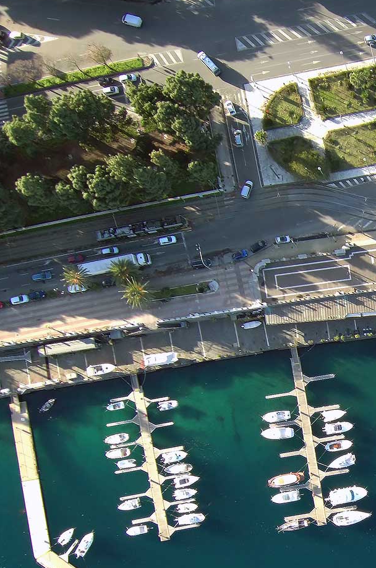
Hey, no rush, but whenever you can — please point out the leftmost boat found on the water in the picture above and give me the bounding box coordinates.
[39,399,57,414]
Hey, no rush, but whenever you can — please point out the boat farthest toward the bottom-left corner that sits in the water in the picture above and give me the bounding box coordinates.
[56,526,77,548]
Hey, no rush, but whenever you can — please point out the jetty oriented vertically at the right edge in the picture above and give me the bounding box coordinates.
[265,348,357,525]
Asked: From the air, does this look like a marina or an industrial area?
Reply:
marina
